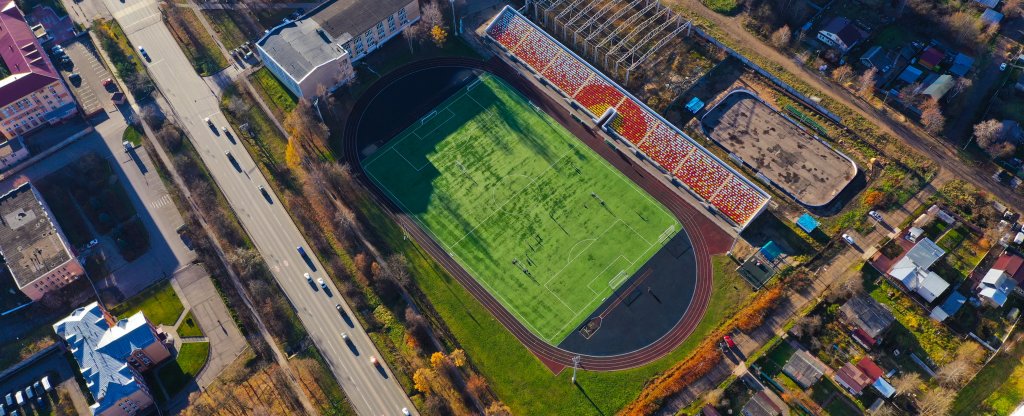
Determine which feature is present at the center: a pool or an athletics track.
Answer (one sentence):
Looking at the center, you will find an athletics track.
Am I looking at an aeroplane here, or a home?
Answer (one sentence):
Visible in the photo is a home.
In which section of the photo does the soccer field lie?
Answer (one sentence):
The soccer field is in the center part of the image.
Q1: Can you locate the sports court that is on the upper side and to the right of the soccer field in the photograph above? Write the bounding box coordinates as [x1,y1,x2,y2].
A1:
[699,83,860,207]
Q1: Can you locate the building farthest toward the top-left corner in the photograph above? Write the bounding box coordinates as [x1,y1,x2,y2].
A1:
[0,0,78,135]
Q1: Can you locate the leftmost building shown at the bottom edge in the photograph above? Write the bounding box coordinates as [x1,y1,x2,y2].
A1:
[53,299,181,416]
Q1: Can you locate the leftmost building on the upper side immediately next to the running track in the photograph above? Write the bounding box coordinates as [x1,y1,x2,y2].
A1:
[255,0,425,98]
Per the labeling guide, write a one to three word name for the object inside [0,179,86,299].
building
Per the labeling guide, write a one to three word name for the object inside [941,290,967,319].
house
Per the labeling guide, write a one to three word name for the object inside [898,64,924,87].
shed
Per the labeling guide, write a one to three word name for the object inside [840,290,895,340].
house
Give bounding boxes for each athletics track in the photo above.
[344,50,734,376]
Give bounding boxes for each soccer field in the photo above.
[362,71,682,344]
